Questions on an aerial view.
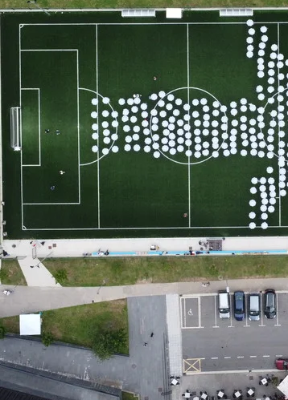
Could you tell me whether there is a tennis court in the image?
No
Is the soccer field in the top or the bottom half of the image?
top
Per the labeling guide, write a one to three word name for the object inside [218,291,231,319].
vehicle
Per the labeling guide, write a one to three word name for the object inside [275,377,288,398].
umbrella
